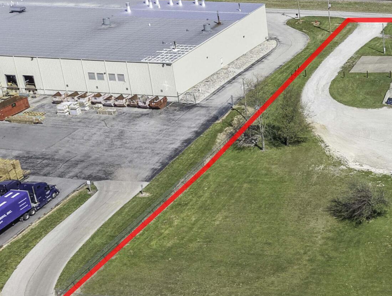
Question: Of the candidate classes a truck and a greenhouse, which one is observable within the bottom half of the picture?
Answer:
truck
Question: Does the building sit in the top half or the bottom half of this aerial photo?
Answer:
top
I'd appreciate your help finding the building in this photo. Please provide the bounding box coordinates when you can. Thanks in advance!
[0,0,268,100]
